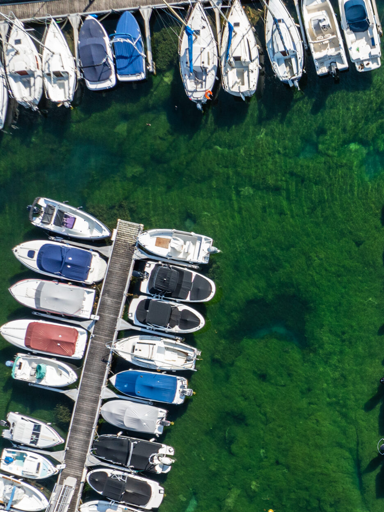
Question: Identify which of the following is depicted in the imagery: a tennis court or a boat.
boat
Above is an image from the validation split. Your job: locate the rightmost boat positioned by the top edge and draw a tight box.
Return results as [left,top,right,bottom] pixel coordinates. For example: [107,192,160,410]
[342,0,382,78]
